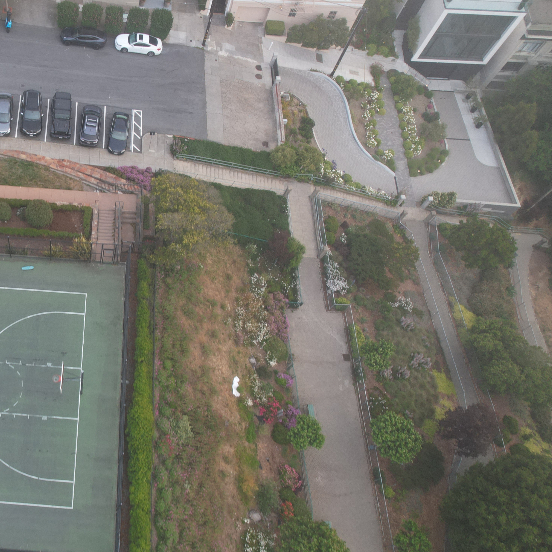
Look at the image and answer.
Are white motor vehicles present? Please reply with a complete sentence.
Yes, the image includes a white motor vehicle.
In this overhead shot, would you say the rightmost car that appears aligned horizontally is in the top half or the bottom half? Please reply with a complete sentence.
The rightmost car that appears aligned horizontally is in the top half of the image.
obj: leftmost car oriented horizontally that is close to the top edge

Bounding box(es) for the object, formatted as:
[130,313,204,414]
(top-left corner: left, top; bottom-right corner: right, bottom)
[57,26,108,53]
